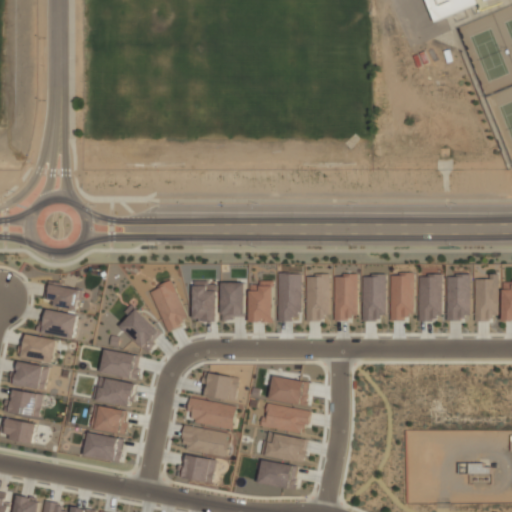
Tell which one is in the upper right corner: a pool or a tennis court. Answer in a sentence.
Looking in the upper right corner, you will find a tennis court.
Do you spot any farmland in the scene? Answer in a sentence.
Yes, farmland can be seen from above here.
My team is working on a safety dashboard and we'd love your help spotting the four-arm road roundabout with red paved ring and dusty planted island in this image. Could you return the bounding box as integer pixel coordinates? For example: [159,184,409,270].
[0,122,122,256]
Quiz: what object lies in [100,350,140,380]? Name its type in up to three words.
house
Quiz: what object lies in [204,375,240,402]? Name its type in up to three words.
house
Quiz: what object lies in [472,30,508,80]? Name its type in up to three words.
tennis court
